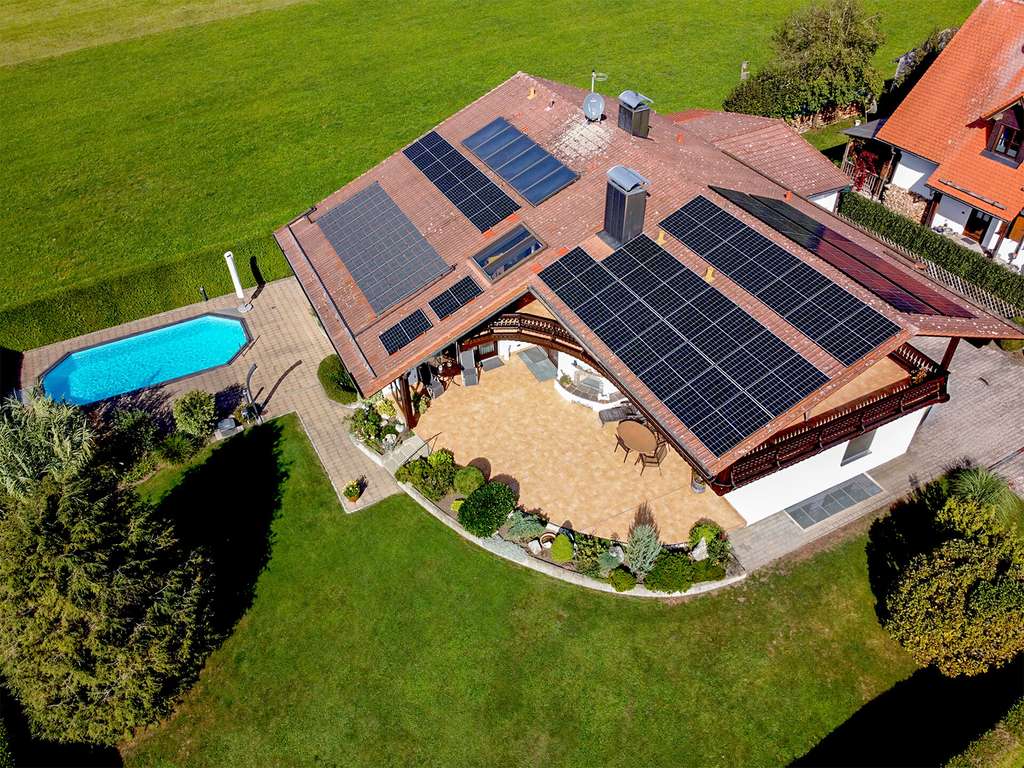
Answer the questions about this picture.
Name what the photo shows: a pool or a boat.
pool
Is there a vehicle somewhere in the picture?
No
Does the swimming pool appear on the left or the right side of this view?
left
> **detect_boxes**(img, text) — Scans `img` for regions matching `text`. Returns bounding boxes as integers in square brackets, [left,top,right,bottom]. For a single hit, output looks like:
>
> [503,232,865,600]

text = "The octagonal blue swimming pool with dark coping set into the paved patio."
[42,311,256,405]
